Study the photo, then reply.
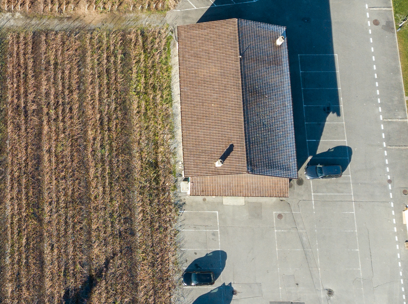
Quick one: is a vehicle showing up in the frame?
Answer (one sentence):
Yes, there's a vehicle here.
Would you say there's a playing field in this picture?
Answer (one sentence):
No, the picture doesn't show any playing field.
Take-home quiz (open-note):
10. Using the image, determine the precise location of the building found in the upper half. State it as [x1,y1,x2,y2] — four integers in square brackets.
[177,18,300,179]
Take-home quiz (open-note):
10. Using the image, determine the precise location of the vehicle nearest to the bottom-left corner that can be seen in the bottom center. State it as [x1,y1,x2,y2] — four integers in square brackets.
[183,269,218,288]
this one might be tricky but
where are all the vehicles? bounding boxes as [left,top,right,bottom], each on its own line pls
[183,269,218,288]
[307,164,348,182]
